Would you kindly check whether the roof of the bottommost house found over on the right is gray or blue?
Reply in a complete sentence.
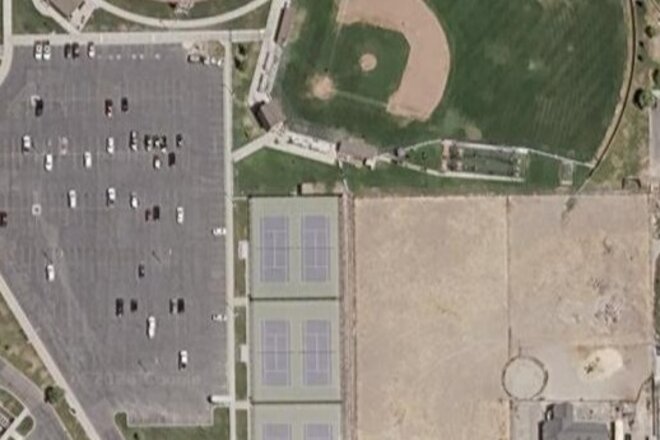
The roof of the bottommost house found over on the right looks gray in the image.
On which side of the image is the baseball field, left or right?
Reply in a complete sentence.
The baseball field sits on the right side.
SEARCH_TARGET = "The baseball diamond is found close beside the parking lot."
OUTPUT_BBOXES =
[272,0,635,167]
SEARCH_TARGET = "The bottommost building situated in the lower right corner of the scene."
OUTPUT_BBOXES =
[541,401,610,440]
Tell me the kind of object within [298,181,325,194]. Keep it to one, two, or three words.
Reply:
shed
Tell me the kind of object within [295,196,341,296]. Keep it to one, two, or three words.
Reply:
tennis court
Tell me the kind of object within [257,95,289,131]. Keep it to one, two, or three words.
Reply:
building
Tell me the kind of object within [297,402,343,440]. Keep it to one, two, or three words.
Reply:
tennis court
